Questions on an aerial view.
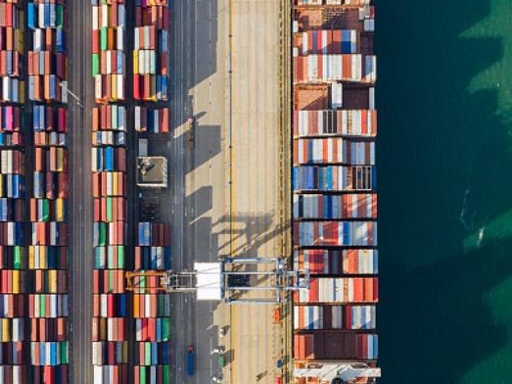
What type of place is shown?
port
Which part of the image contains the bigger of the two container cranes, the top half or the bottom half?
bottom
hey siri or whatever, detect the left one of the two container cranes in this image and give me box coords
[123,268,179,292]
